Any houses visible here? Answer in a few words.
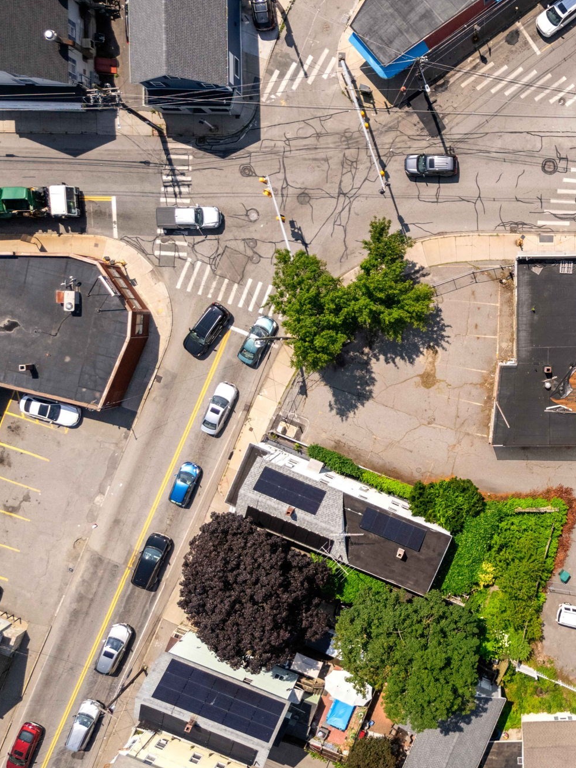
Yes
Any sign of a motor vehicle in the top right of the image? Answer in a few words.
Yes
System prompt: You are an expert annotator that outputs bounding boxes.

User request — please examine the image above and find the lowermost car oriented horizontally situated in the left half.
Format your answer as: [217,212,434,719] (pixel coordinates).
[15,393,85,428]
